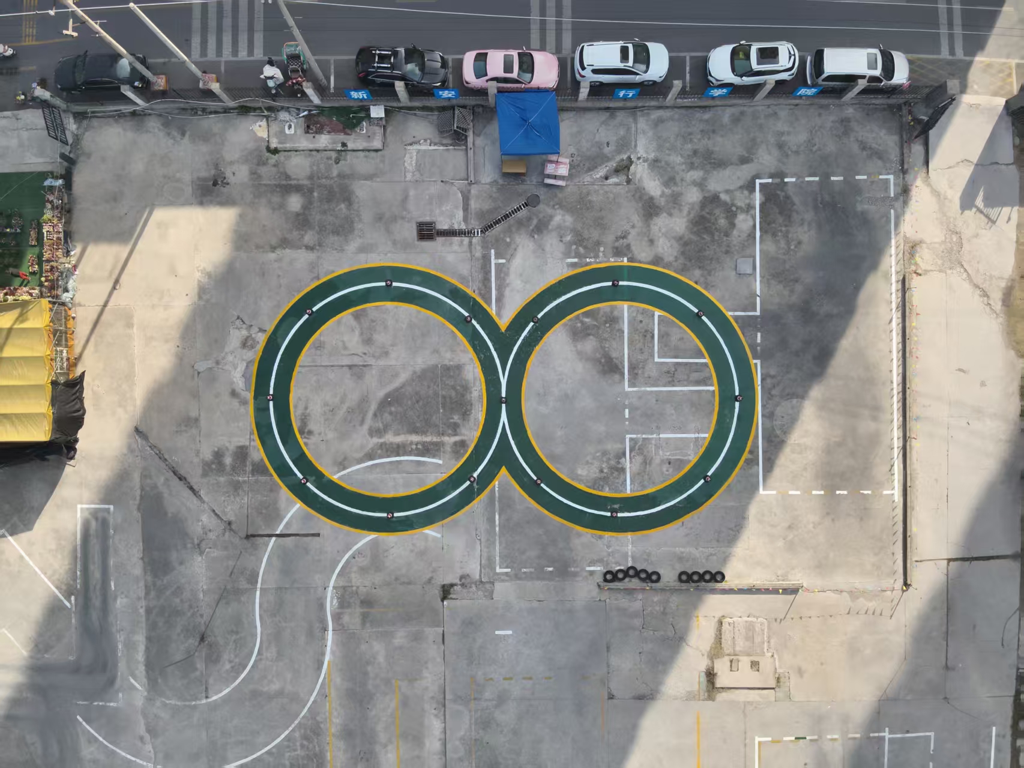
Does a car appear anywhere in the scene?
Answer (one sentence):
Yes, the frame does contain a car.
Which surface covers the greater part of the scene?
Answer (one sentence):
Most of the picture is covered by paved ground.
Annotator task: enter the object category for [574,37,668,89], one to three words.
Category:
car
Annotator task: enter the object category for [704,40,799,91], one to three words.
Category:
car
